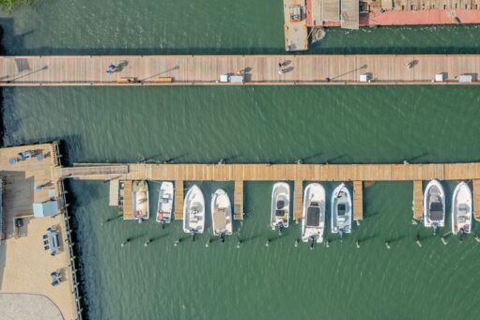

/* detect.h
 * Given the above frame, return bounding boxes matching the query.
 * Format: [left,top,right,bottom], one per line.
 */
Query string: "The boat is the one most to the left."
[132,181,150,228]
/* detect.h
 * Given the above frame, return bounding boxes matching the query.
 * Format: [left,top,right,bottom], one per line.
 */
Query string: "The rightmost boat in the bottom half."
[451,181,472,241]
